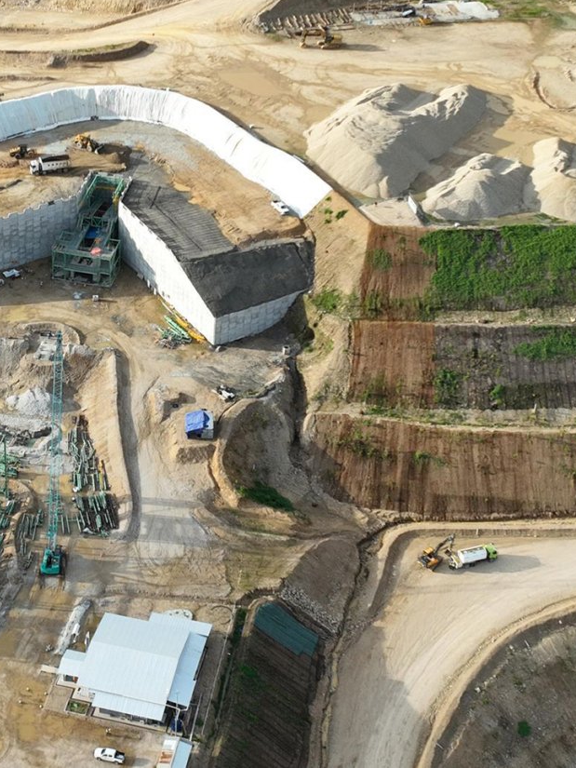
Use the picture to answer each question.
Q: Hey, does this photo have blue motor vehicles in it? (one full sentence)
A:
No, there appears to be no blue motor vehicle in this shot.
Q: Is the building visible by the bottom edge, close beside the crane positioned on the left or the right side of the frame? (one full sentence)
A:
The building visible by the bottom edge, close beside the crane appears in the left half of the scene.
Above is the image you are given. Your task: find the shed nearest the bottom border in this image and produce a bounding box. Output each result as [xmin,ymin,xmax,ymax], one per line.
[156,737,191,768]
